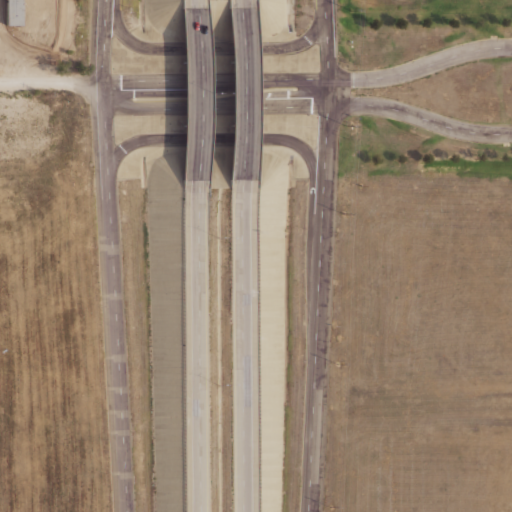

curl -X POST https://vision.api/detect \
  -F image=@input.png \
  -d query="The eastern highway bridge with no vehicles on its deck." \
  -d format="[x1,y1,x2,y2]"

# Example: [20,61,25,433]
[231,0,262,202]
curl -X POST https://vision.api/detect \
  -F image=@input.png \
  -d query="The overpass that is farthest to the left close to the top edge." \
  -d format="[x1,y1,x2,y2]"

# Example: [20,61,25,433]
[185,0,214,202]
